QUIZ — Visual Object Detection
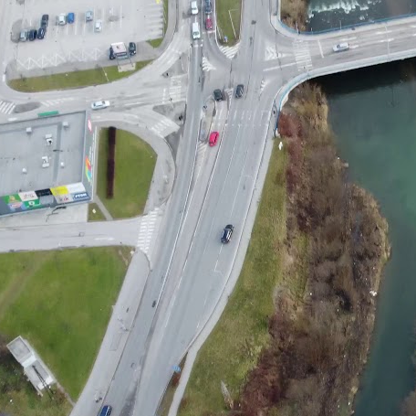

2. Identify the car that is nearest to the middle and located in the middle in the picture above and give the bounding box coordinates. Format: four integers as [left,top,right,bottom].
[222,225,234,243]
